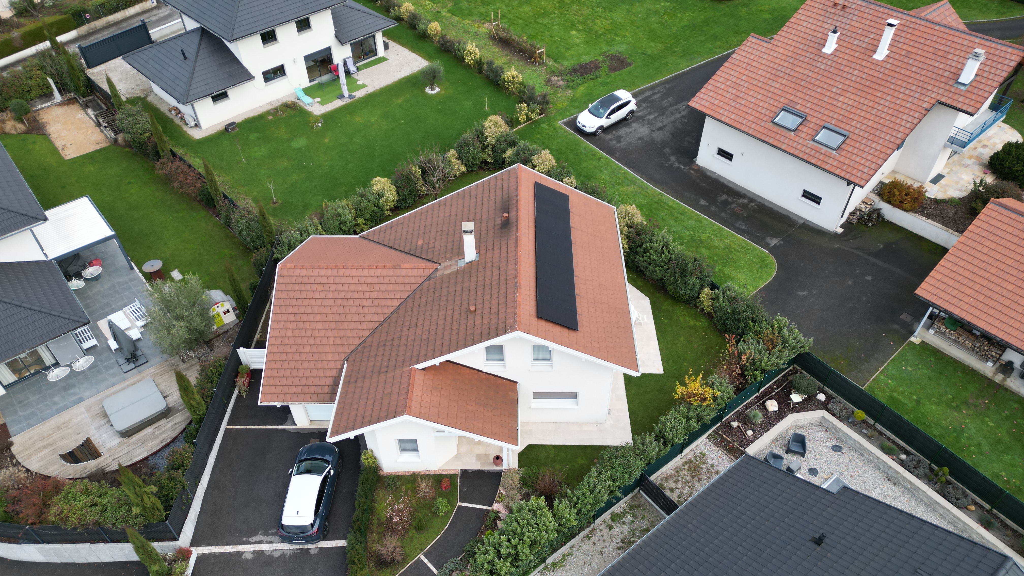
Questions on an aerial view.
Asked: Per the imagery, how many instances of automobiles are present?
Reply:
2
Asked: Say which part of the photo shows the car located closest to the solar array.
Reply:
top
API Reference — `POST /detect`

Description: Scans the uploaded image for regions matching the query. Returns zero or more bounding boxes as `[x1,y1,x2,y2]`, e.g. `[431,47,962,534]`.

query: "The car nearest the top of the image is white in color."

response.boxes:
[575,90,638,136]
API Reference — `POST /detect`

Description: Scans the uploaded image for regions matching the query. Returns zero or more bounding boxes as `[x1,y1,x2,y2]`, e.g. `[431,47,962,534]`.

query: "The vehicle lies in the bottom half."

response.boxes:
[274,442,342,546]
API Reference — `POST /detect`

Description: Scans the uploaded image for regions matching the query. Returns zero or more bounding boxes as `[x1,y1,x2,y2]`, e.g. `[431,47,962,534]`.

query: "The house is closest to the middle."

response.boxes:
[257,163,645,470]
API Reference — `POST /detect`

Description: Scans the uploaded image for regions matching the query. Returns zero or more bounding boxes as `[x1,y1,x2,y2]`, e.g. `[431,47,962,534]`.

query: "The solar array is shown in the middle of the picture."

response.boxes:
[534,181,580,331]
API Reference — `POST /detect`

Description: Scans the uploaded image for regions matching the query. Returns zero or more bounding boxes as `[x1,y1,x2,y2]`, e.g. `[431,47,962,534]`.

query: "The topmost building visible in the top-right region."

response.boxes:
[686,0,1024,237]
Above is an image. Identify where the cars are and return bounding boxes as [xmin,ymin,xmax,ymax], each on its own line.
[575,90,638,136]
[274,442,342,546]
